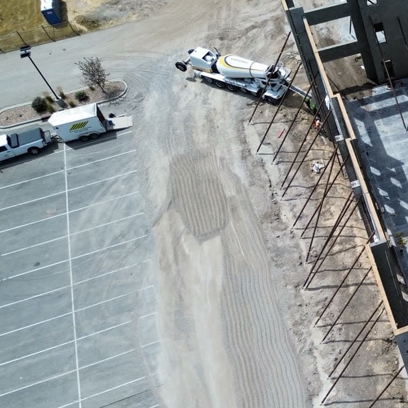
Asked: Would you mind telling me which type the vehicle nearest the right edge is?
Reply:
truck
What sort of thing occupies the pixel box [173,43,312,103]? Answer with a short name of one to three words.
truck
